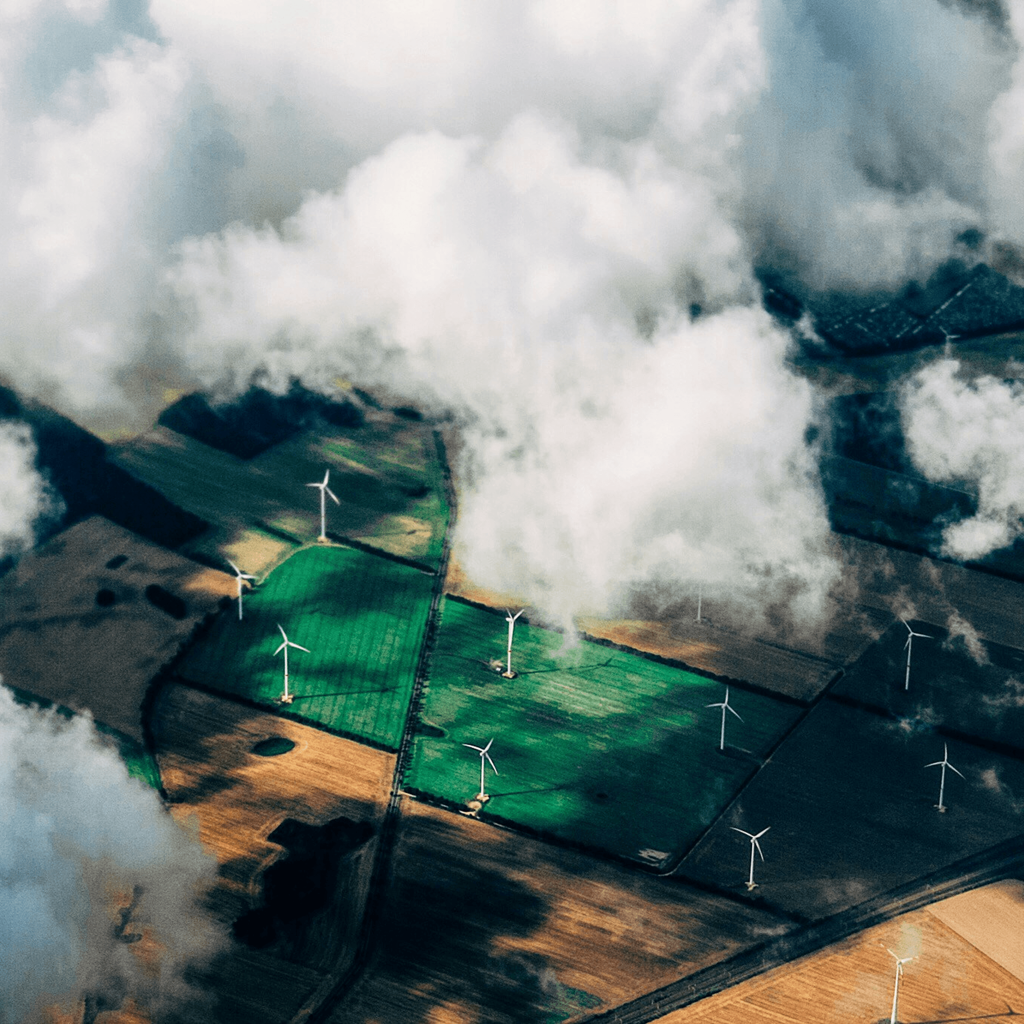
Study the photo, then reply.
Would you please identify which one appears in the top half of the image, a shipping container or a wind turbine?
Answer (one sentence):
Looking in the top half of the image, you will find a wind turbine.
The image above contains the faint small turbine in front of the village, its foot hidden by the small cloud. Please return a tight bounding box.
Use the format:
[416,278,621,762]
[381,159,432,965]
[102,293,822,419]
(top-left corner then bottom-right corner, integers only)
[944,314,975,379]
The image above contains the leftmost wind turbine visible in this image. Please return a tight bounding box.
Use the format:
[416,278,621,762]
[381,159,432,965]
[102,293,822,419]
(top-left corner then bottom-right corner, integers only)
[228,554,259,621]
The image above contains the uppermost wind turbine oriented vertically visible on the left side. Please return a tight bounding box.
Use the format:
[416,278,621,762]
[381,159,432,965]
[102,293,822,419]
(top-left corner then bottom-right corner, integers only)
[307,466,337,542]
